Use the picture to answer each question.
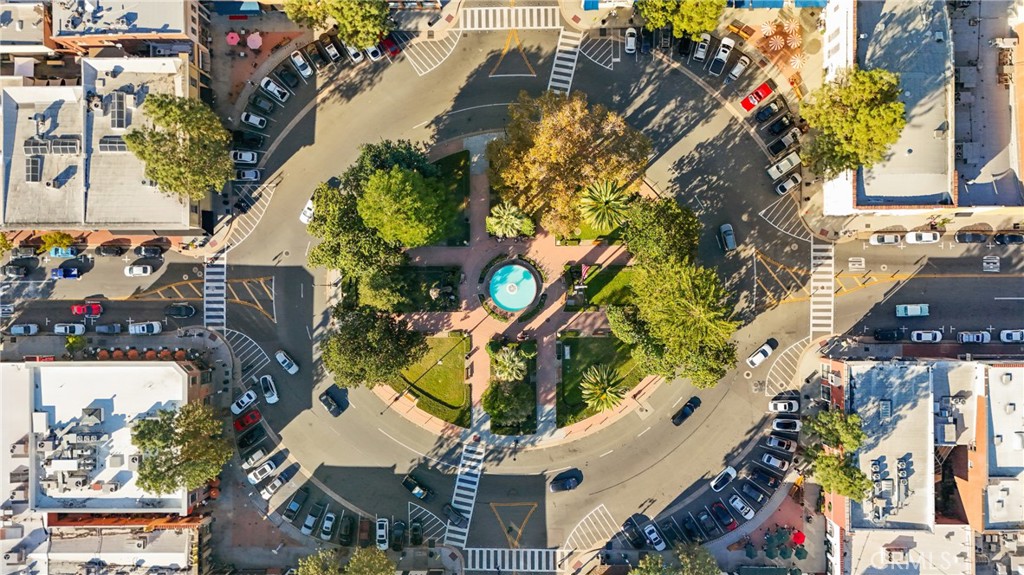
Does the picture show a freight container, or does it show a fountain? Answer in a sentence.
The image shows a fountain.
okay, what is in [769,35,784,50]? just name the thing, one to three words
umbrella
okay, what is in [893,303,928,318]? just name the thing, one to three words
car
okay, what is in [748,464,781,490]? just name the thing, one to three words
car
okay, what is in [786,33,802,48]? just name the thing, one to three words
umbrella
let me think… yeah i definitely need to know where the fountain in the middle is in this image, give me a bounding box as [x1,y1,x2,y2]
[485,260,541,316]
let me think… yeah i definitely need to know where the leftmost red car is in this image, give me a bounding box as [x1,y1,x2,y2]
[72,302,105,316]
